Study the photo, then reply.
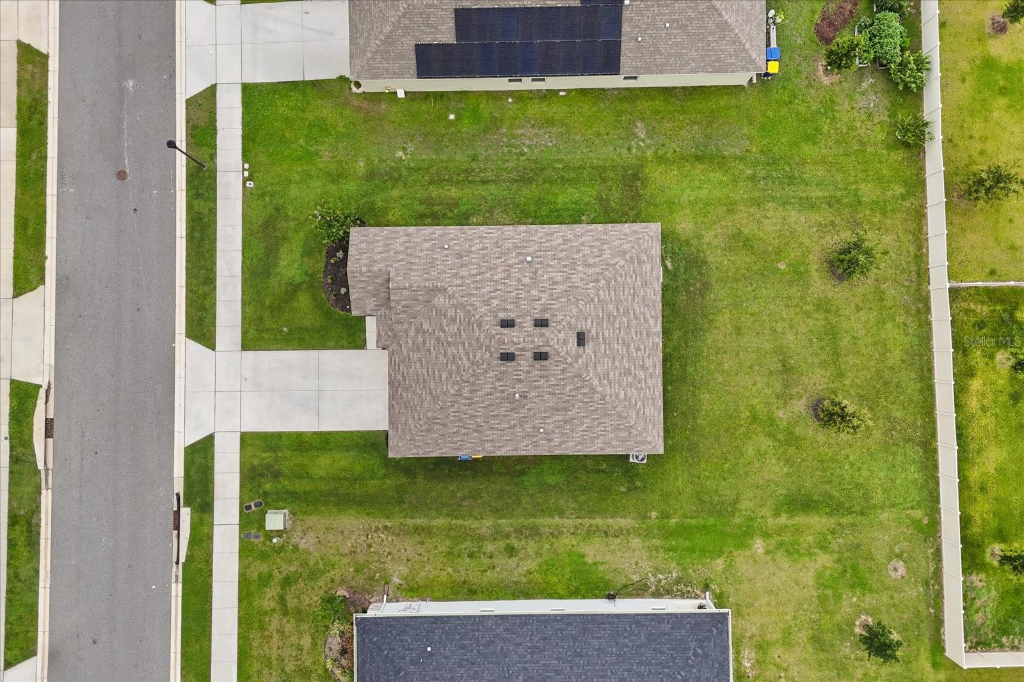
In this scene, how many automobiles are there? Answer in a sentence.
No automobiles are visible.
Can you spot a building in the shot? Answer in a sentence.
Yes, the photo shows a building.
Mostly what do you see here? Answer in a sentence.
The bulk of the photo consists of grass.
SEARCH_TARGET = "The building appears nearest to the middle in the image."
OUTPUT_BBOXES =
[347,221,665,459]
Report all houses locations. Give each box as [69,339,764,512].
[354,592,732,682]
[347,221,665,459]
[348,0,768,90]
